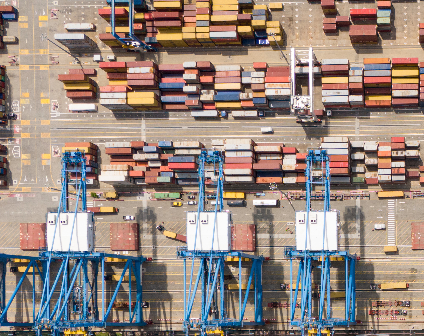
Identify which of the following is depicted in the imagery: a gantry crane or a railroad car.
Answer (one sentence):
The one in the frame is a gantry crane.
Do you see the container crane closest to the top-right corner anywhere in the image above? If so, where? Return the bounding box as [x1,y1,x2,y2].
[288,44,324,123]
